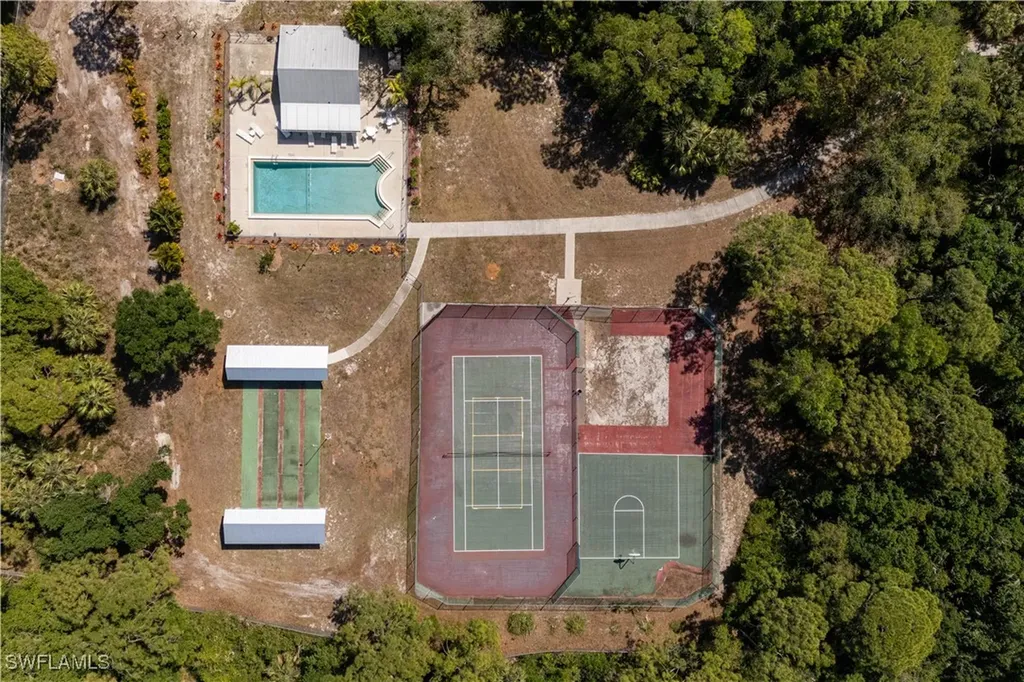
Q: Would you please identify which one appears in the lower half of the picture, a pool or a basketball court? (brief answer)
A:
basketball court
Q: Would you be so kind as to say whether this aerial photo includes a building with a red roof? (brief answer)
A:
No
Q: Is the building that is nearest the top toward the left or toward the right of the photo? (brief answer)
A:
left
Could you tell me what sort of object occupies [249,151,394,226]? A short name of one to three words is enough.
swimming pool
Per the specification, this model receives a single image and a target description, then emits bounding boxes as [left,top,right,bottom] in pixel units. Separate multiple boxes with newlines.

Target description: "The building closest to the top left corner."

[277,25,362,135]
